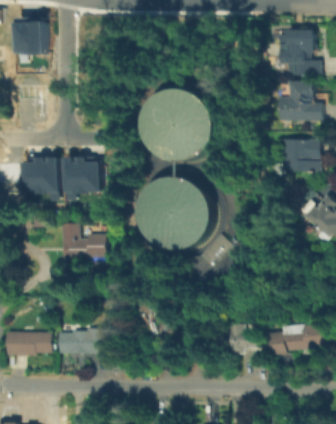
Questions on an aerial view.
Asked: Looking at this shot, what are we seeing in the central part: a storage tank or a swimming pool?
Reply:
storage tank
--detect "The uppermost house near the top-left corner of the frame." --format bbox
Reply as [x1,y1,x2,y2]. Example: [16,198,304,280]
[12,18,50,52]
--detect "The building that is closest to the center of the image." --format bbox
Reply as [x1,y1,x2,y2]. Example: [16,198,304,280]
[202,234,234,267]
